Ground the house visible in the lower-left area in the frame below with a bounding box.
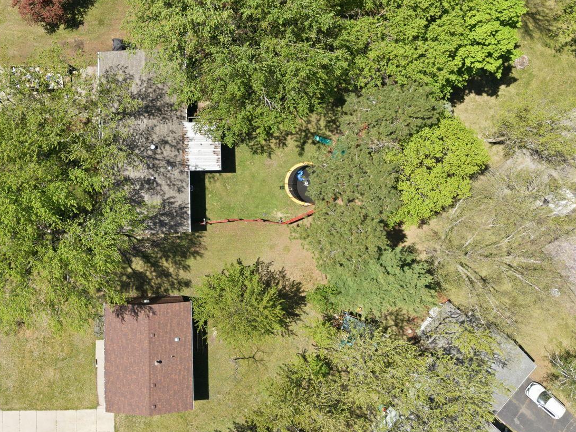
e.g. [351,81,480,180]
[102,298,195,416]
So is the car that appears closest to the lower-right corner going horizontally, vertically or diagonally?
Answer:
diagonally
